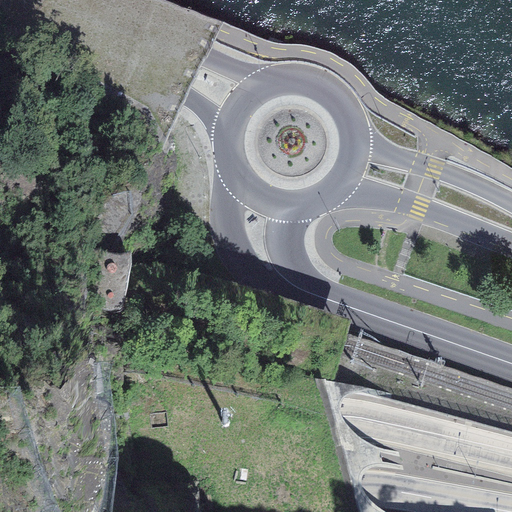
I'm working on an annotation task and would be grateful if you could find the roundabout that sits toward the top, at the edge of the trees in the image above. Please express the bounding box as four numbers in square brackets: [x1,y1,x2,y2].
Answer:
[212,63,372,222]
